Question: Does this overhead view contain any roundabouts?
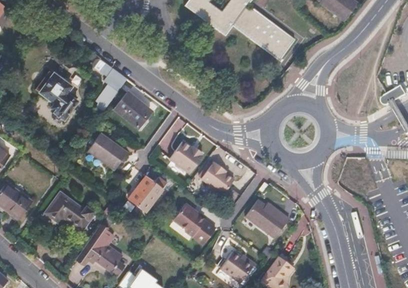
Yes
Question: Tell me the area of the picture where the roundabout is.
right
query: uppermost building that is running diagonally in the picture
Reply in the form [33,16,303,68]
[233,8,296,62]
